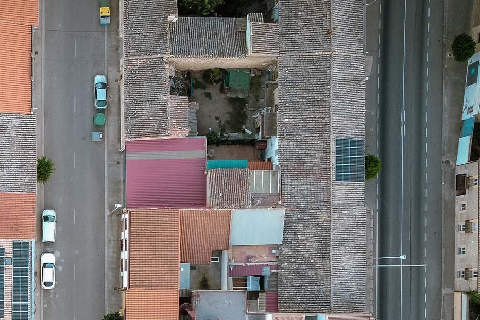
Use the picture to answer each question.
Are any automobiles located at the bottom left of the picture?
Yes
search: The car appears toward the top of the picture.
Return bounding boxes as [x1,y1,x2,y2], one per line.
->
[92,75,108,110]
